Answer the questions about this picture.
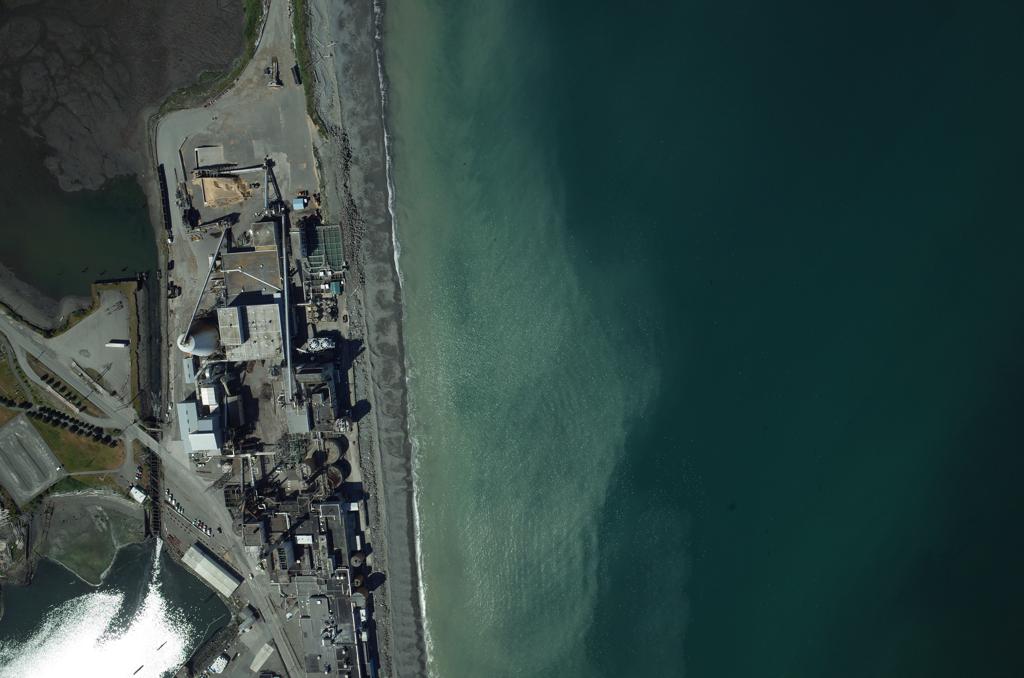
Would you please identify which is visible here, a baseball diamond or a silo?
silo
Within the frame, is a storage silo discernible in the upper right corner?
No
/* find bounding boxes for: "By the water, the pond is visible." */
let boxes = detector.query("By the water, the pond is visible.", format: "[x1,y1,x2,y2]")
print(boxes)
[0,105,232,678]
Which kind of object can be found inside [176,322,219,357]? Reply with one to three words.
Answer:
silo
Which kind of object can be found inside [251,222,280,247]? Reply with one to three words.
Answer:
building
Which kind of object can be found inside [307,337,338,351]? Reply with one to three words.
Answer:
cooling tower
